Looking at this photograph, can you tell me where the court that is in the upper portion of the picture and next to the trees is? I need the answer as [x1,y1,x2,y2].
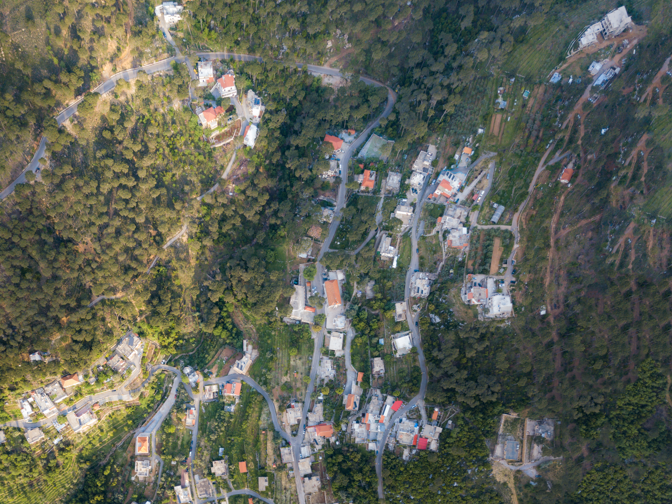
[357,135,395,162]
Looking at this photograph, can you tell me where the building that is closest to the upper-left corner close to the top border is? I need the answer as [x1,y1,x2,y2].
[155,2,185,26]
